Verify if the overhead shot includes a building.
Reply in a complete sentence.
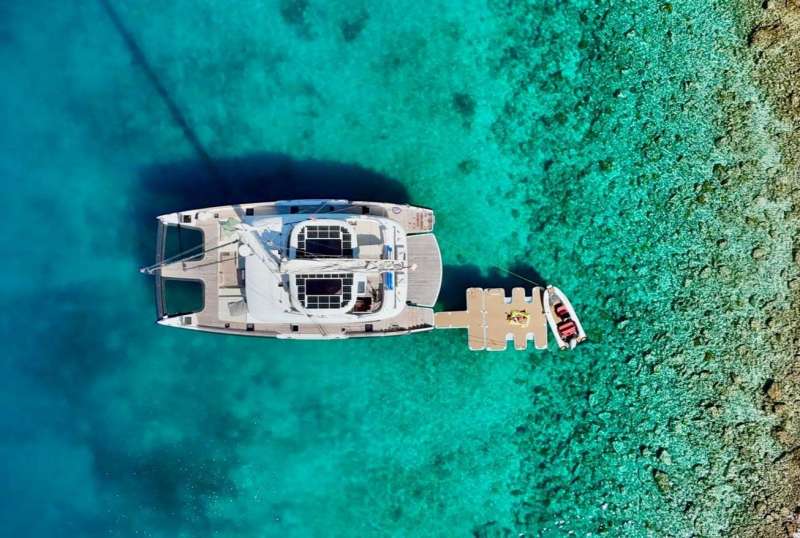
No, no building is visible in the view.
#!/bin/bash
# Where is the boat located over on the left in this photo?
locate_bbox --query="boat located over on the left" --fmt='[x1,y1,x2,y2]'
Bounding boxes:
[140,199,441,339]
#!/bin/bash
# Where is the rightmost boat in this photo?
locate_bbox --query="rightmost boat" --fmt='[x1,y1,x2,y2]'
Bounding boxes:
[542,286,587,352]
